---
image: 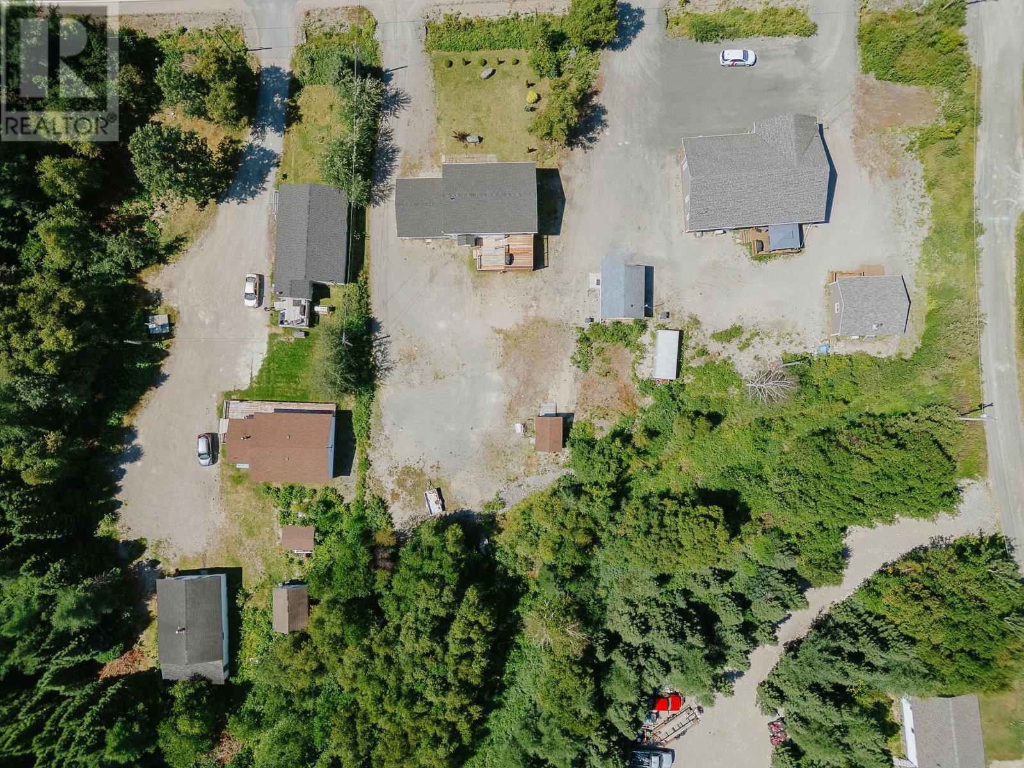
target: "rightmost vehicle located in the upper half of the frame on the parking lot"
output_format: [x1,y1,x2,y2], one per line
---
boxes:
[720,47,756,66]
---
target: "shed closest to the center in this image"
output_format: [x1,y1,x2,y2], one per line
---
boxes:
[535,416,563,453]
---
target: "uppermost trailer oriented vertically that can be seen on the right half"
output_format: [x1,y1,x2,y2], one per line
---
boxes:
[654,325,681,379]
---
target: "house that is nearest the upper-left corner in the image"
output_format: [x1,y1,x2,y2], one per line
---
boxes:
[269,183,351,301]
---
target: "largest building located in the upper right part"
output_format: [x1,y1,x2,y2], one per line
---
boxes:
[675,107,832,234]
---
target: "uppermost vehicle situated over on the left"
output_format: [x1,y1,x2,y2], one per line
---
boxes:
[241,273,259,309]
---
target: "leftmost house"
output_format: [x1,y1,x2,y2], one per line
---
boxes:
[157,567,233,685]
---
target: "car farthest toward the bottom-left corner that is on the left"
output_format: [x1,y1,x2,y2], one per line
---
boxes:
[194,434,212,466]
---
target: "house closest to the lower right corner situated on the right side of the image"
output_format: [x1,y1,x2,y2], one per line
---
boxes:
[891,687,985,768]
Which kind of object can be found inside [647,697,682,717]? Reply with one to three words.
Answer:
car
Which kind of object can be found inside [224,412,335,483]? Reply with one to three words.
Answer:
house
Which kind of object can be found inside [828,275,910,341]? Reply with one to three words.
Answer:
building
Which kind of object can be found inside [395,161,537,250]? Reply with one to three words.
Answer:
house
